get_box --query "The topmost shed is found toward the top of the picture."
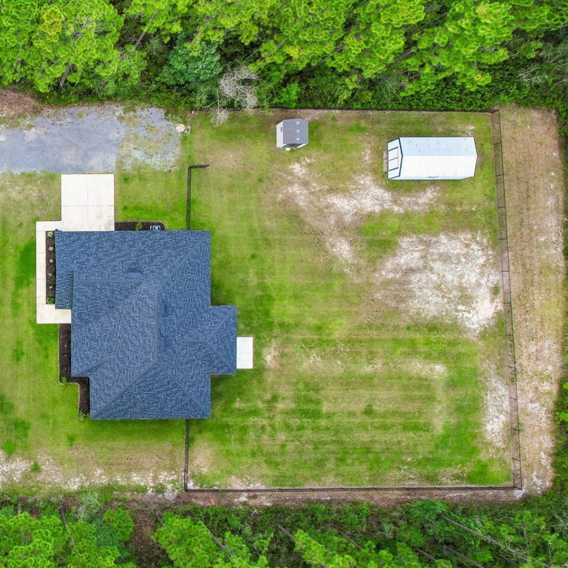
[277,118,309,148]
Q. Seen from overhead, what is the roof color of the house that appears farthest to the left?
blue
